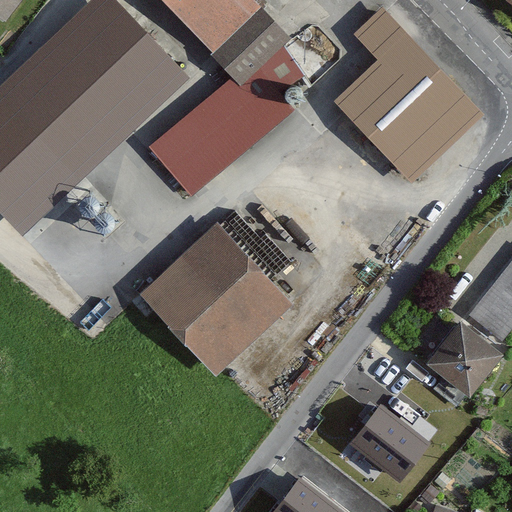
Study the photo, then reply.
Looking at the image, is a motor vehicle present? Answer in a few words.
Yes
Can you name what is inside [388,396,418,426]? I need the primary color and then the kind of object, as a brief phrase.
white camper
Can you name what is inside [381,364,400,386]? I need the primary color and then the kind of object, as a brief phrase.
white car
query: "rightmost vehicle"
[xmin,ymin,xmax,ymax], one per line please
[452,274,474,300]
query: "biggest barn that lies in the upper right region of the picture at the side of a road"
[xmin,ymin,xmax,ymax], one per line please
[337,10,484,184]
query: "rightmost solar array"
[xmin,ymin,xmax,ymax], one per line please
[360,429,412,471]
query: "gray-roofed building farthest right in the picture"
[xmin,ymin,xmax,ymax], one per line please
[469,258,512,341]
